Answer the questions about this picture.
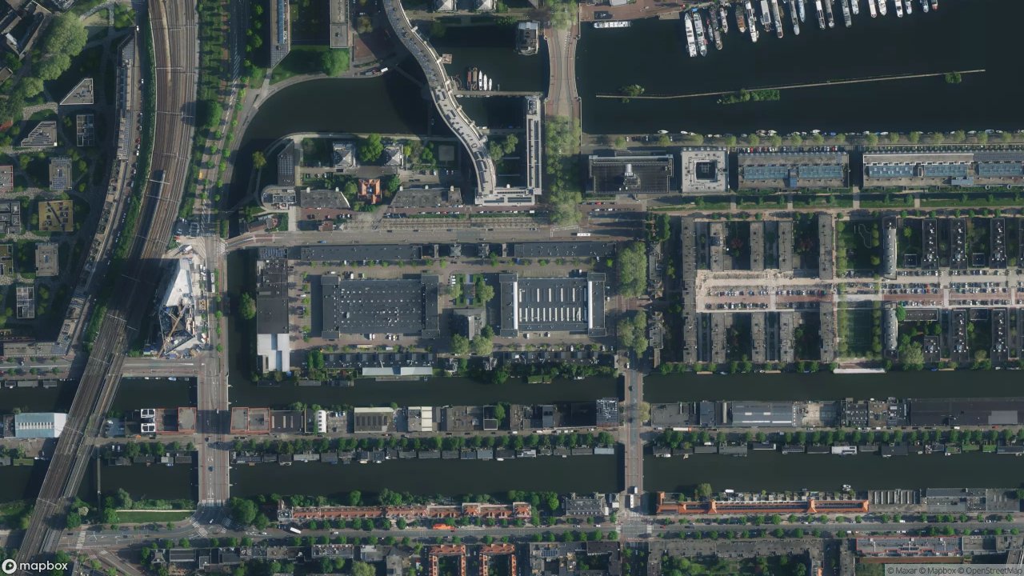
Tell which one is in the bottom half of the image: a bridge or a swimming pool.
bridge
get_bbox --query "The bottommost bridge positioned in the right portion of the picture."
[622,443,646,493]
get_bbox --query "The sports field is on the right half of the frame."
[846,310,874,357]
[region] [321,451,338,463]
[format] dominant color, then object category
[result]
gray boat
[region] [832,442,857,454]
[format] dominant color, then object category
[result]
white boat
